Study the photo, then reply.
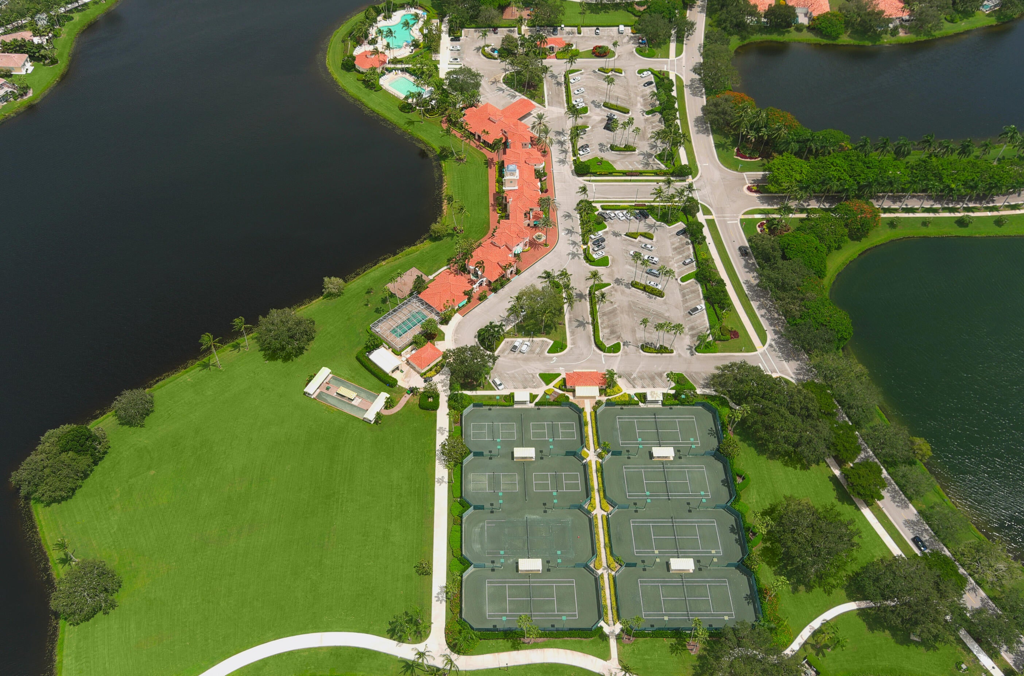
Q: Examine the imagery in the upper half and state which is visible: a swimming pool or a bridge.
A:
swimming pool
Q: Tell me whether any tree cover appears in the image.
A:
Yes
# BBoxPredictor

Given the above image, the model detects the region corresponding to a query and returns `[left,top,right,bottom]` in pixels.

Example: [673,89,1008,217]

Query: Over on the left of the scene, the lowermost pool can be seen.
[391,310,428,338]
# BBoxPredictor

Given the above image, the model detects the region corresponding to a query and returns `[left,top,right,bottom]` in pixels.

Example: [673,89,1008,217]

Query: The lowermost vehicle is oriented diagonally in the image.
[912,535,927,553]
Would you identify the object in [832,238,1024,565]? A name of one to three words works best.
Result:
pond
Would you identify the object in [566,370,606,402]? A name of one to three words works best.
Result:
building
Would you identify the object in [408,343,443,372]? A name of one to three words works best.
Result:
building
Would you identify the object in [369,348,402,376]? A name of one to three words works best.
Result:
shed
